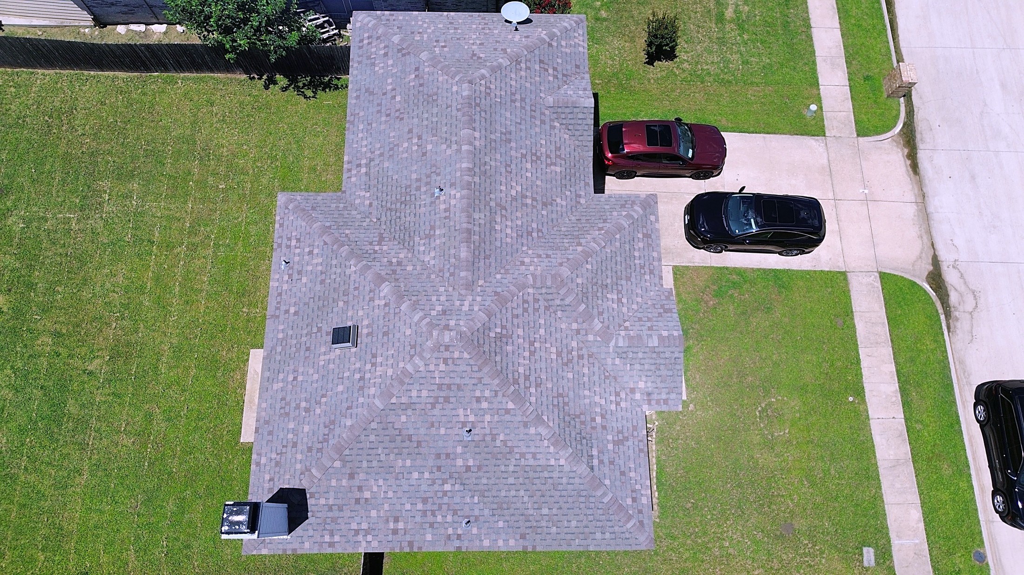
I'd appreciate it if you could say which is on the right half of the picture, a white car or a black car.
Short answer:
black car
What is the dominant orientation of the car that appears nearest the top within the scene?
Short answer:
from left to right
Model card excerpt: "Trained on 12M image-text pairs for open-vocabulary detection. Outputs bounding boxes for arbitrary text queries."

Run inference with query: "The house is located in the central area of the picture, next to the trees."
[219,10,686,554]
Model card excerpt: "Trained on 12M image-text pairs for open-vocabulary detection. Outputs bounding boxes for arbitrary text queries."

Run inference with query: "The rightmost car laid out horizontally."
[681,188,827,255]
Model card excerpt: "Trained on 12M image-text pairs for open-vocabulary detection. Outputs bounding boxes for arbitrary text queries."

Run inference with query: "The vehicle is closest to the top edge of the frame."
[598,115,728,179]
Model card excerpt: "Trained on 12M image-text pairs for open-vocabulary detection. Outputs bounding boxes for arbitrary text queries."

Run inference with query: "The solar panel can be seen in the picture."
[331,321,350,345]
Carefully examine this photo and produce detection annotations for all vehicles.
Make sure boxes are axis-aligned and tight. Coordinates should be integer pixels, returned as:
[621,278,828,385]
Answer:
[973,380,1024,532]
[681,188,827,255]
[598,115,728,179]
